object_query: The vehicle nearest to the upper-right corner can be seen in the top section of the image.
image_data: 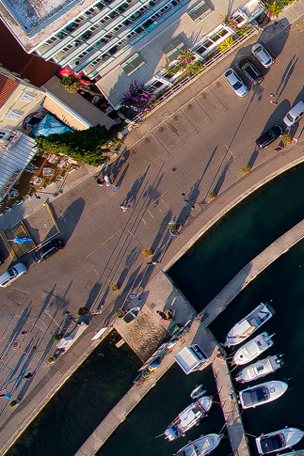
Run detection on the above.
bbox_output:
[249,40,277,72]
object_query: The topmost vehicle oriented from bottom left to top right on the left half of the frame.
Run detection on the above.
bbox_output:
[30,237,68,265]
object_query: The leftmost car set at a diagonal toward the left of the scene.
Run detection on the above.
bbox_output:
[0,260,33,289]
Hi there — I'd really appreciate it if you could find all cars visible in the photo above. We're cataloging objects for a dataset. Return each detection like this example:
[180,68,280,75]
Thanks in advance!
[249,40,277,72]
[0,260,33,289]
[281,100,304,130]
[223,68,250,99]
[255,124,288,150]
[239,56,266,89]
[30,237,68,265]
